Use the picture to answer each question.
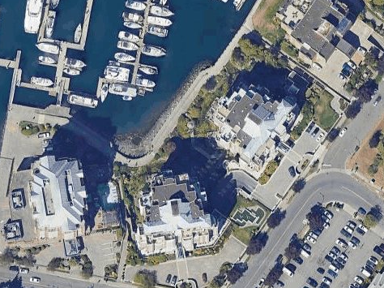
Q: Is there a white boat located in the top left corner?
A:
Yes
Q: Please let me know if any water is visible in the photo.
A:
Yes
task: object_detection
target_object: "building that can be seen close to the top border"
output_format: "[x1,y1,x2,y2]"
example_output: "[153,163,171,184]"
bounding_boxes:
[275,0,356,70]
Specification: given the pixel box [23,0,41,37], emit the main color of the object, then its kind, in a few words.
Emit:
white boat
